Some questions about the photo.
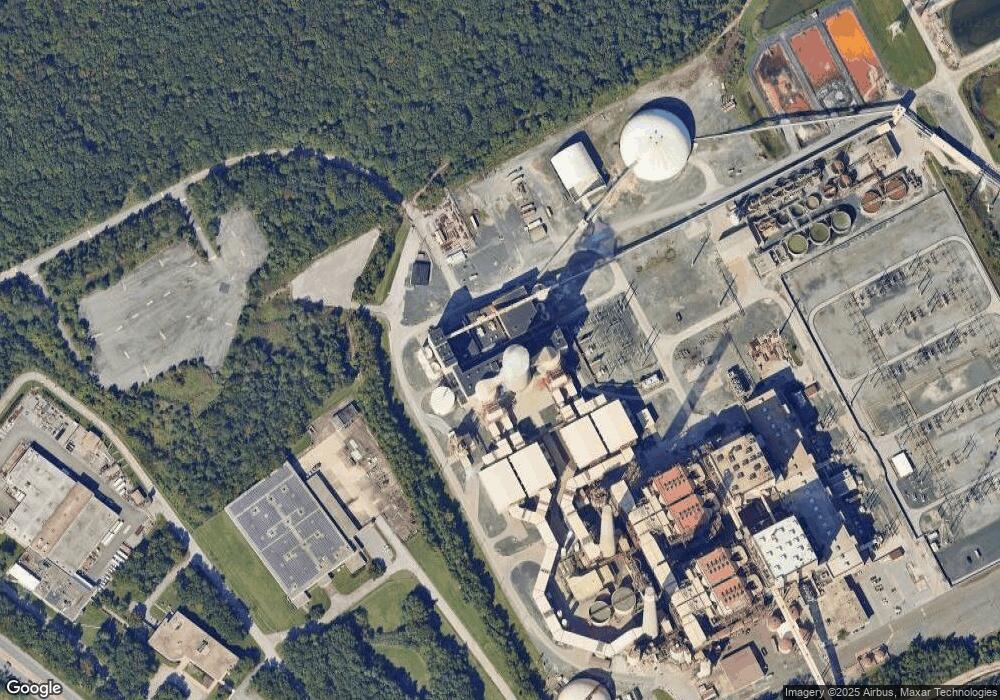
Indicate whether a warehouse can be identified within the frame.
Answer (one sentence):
Yes, you can see a warehouse in this photo.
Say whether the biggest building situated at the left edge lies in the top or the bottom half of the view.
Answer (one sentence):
Seen from above, the biggest building situated at the left edge lies in the bottom half of the view.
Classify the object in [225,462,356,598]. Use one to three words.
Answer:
warehouse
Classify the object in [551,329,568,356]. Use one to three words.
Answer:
building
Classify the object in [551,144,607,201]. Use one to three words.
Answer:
barn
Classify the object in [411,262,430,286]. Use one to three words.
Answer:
shed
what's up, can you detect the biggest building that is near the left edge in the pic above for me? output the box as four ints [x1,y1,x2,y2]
[3,447,120,573]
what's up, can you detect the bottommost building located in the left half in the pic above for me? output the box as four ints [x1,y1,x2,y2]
[149,611,239,692]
